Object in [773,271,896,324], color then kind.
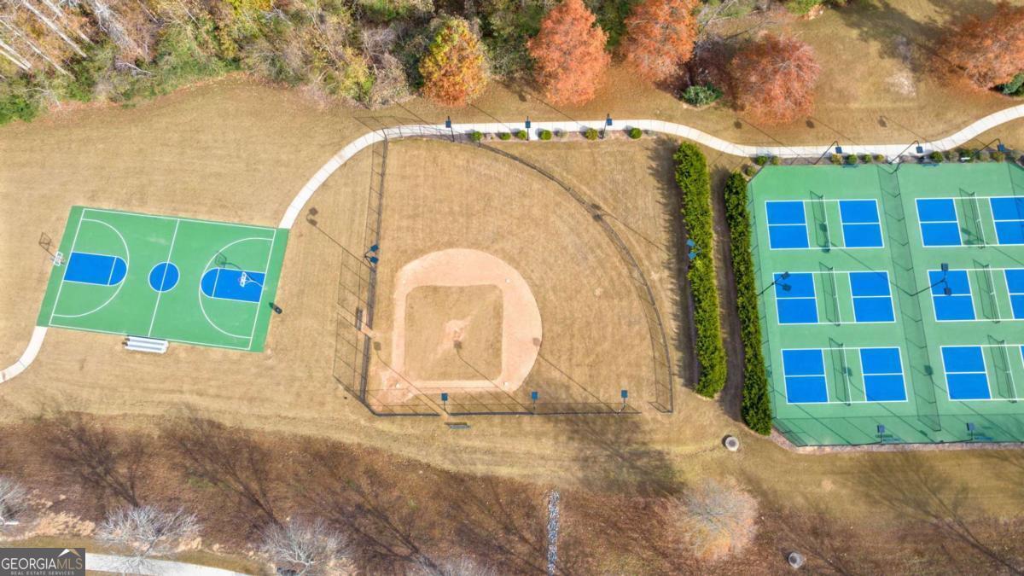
blue sports court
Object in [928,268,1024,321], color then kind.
blue sports court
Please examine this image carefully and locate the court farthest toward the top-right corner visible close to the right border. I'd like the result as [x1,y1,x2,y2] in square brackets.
[916,196,1024,246]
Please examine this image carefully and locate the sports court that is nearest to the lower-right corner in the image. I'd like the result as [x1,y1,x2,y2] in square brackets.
[941,345,1024,400]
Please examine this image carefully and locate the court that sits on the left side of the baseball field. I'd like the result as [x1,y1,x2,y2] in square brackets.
[36,206,289,352]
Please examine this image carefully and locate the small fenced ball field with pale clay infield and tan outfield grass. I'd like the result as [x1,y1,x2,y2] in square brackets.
[365,137,673,416]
